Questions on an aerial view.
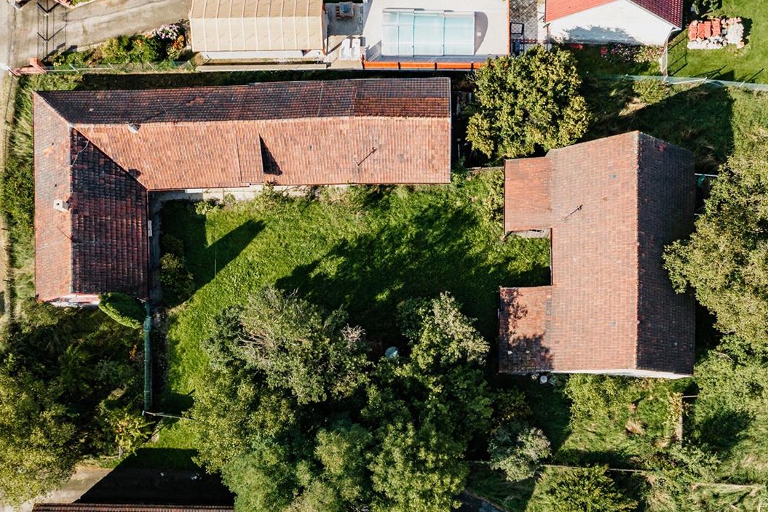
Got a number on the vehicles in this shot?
none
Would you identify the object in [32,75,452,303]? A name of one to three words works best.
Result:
house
